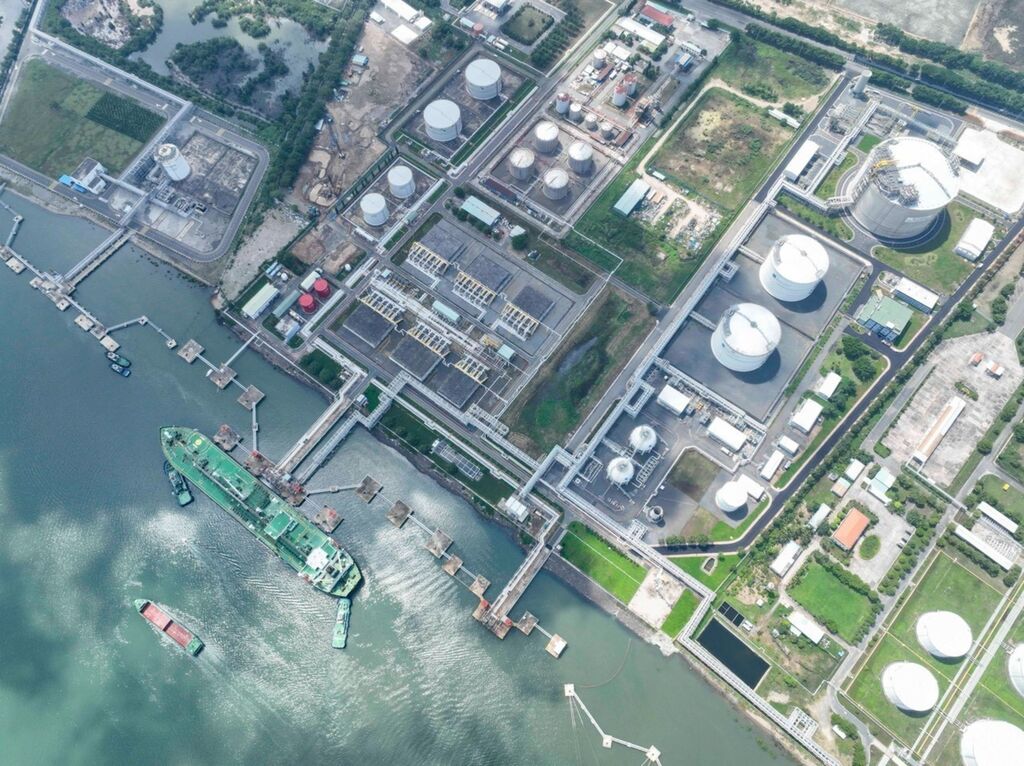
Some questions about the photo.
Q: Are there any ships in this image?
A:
Yes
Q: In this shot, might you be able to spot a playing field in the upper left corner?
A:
No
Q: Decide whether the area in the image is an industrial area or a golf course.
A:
industrial area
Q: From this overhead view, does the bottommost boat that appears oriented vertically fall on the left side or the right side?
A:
left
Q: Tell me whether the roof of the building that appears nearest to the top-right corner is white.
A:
Yes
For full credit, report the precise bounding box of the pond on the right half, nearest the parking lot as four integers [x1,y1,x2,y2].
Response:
[697,618,770,689]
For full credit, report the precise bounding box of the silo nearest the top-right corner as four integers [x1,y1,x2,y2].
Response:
[849,68,873,98]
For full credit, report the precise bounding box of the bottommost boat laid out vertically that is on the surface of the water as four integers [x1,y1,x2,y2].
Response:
[331,597,352,649]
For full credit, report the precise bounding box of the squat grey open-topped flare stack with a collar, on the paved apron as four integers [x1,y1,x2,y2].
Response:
[645,506,663,524]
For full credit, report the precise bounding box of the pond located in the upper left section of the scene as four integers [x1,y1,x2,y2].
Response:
[129,0,328,112]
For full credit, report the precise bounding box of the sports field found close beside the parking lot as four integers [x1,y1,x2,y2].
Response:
[790,565,872,643]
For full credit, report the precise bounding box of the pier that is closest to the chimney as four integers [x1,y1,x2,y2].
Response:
[495,517,576,616]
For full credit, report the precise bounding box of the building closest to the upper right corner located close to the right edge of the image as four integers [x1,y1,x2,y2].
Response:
[950,129,988,166]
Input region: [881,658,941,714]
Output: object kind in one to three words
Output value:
storage tank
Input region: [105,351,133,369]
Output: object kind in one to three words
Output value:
boat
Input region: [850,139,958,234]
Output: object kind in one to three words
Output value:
storage tank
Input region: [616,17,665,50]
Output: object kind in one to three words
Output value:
building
